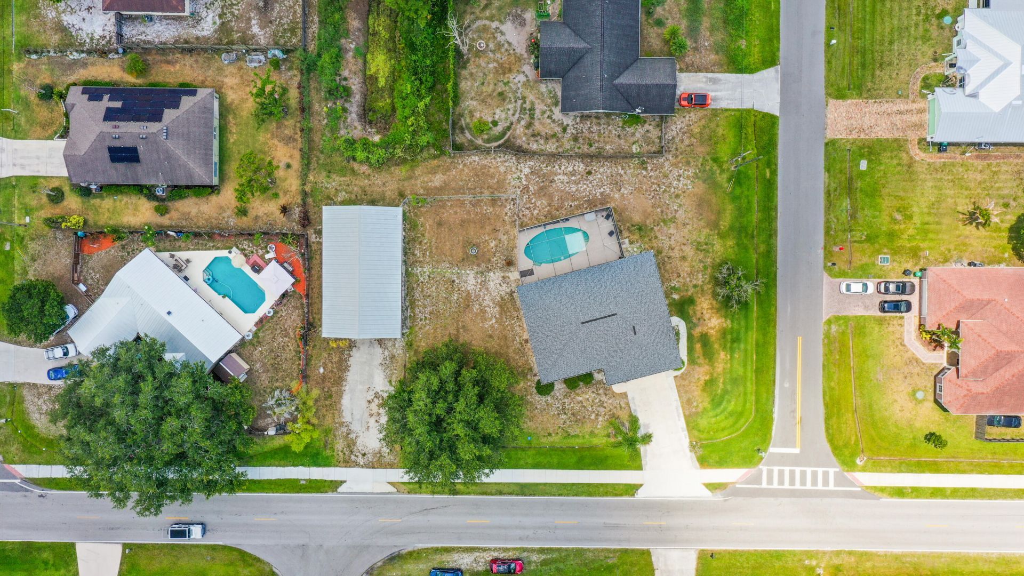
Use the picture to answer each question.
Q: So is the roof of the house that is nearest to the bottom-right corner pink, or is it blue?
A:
pink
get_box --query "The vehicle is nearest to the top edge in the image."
[678,91,711,108]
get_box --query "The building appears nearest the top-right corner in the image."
[919,0,1024,143]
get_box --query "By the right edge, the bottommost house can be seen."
[913,267,1024,415]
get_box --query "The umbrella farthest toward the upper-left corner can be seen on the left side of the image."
[233,254,247,268]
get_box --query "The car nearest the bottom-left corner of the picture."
[165,522,205,540]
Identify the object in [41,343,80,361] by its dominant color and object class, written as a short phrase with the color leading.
white vehicle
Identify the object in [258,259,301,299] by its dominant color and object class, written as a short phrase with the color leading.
white gazebo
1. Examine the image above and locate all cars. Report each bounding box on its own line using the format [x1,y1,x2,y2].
[47,362,83,378]
[838,280,873,296]
[875,280,915,296]
[984,415,1021,430]
[44,306,77,341]
[490,558,522,576]
[877,299,911,315]
[678,91,711,108]
[431,565,463,576]
[165,522,205,540]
